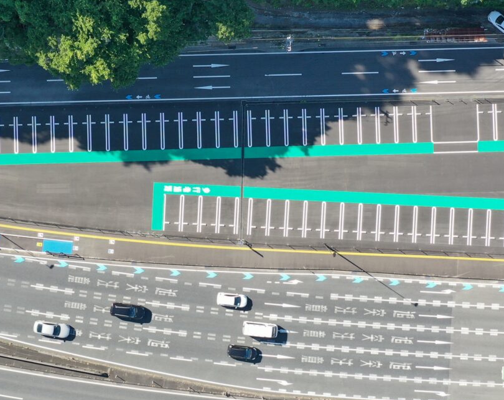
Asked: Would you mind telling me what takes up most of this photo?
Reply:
paved ground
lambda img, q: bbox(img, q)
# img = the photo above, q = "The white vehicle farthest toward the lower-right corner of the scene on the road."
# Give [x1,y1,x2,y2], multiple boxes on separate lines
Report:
[244,321,276,339]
